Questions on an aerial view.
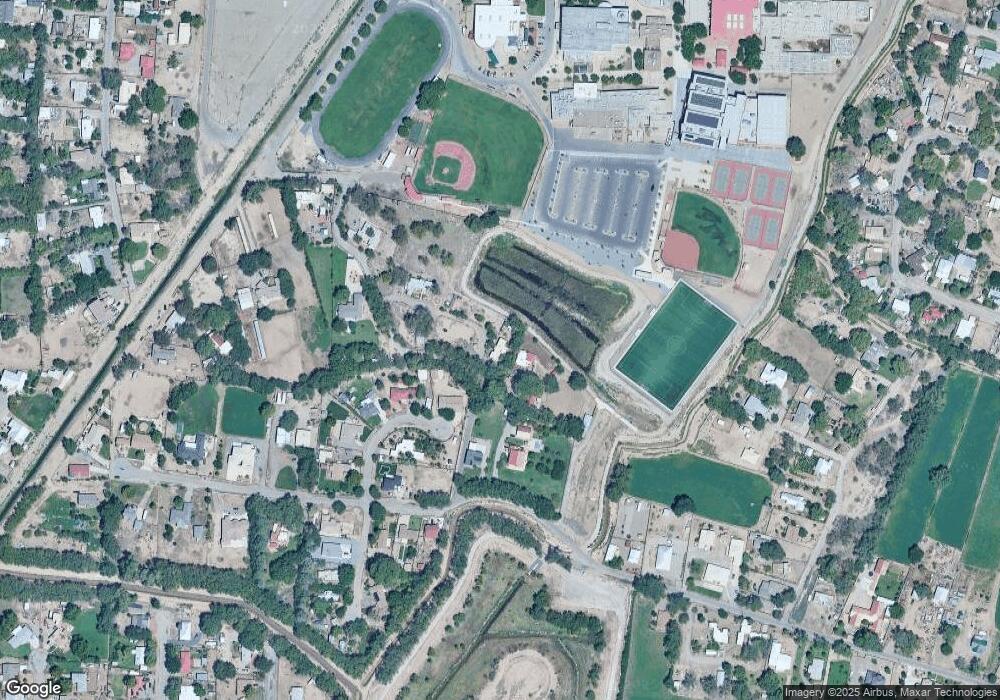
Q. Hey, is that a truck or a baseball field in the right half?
baseball field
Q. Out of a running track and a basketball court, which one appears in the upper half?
running track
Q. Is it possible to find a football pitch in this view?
Yes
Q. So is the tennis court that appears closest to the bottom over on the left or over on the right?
right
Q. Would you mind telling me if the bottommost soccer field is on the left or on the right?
right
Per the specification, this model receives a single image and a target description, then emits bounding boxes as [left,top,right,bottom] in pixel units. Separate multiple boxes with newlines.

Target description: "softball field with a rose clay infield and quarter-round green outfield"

[659,188,743,281]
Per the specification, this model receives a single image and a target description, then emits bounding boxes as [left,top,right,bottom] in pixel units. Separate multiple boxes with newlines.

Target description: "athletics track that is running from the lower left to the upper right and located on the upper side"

[311,2,451,166]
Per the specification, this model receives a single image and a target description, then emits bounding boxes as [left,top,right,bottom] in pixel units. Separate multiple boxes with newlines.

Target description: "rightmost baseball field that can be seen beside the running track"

[414,79,545,206]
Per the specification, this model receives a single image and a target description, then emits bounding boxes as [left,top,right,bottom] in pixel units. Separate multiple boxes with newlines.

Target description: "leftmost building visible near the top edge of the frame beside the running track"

[475,0,526,48]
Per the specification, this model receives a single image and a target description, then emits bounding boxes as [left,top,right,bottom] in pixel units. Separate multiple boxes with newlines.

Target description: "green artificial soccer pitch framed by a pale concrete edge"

[614,280,738,412]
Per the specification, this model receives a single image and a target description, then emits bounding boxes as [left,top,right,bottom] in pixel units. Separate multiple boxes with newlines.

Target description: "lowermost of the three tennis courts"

[743,207,783,250]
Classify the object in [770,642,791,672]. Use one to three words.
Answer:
house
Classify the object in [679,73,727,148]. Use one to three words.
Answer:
building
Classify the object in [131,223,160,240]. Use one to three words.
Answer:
house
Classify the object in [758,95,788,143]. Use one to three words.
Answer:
building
